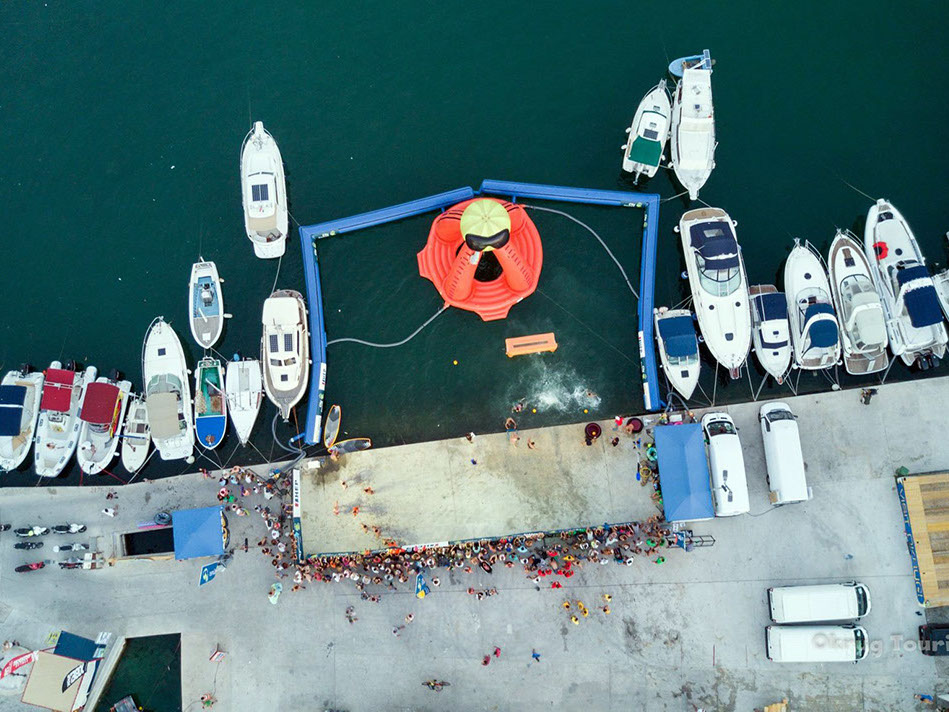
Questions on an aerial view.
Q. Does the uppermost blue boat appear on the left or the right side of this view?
right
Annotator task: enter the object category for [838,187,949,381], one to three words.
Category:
boat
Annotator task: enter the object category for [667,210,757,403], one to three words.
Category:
boat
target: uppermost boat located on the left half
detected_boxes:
[241,105,303,290]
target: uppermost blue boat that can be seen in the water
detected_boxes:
[659,54,715,82]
